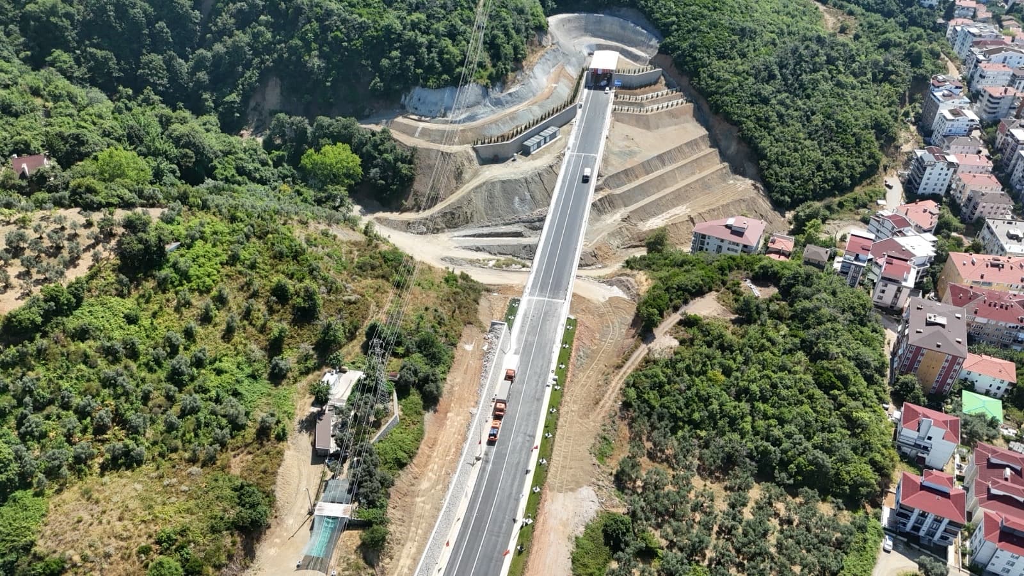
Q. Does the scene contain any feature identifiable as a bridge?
Yes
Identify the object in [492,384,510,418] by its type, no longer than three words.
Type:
vehicle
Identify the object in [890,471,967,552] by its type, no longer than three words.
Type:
house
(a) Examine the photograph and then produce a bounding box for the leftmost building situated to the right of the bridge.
[689,207,767,265]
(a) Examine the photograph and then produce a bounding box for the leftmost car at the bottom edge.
[883,534,896,553]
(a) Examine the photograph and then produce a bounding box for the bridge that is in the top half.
[522,152,603,301]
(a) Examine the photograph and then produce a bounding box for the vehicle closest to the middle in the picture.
[505,353,520,380]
